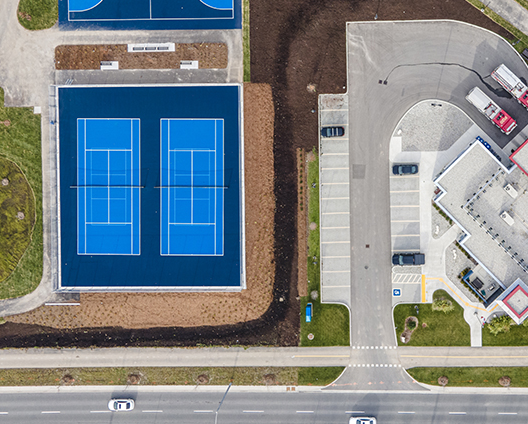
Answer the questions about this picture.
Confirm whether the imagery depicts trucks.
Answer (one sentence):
Yes, a truck can be made out from above.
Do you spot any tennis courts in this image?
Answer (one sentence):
Yes, there's a tennis court here.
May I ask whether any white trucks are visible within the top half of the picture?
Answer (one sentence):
Yes, I can see a white truck within the top half of the picture.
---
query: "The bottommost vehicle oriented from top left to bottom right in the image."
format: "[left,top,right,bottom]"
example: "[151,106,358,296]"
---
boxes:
[465,89,515,137]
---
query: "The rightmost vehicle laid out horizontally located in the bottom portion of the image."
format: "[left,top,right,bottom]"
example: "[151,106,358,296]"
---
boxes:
[392,252,426,267]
